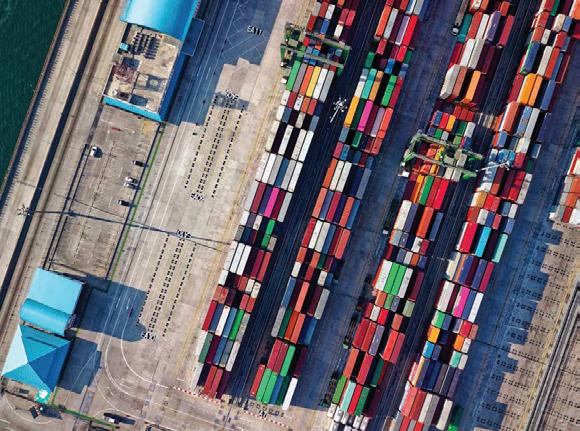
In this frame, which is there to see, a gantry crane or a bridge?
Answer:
gantry crane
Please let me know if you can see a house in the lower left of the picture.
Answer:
Yes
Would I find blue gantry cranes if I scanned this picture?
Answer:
No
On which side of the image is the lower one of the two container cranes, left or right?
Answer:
right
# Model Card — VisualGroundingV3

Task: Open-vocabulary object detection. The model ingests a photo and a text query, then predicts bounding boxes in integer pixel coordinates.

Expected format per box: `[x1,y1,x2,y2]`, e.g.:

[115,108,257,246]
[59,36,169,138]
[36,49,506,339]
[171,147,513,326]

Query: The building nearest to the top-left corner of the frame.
[99,0,215,126]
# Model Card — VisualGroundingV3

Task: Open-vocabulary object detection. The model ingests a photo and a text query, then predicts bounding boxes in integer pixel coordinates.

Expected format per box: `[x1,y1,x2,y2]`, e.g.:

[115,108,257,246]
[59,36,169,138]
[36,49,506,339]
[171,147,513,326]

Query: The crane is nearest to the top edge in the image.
[276,23,353,86]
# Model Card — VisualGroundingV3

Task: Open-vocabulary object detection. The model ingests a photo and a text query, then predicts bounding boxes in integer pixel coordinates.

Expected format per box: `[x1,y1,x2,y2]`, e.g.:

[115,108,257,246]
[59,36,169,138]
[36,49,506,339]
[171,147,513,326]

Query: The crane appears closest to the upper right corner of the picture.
[396,130,484,185]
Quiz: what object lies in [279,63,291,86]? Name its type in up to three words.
vehicle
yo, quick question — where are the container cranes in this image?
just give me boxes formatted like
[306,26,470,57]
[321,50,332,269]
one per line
[276,23,353,86]
[396,130,484,185]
